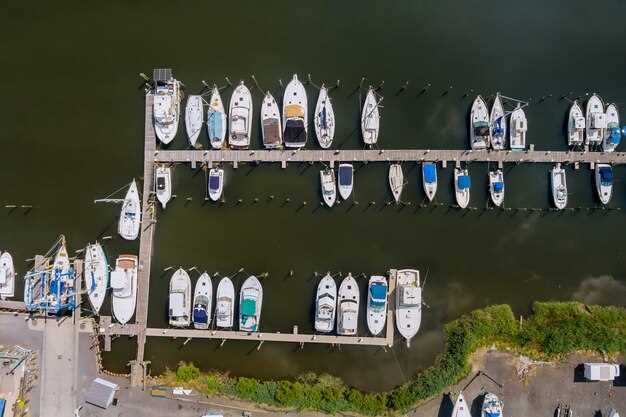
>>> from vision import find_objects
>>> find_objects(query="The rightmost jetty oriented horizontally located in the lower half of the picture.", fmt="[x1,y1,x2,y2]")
[147,323,386,348]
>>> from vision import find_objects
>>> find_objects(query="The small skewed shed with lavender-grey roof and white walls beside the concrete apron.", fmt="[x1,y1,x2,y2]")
[87,377,119,409]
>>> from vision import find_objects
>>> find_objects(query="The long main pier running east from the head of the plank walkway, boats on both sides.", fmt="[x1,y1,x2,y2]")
[155,143,626,170]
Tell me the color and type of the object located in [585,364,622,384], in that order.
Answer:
white vehicle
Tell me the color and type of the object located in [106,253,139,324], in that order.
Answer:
white boat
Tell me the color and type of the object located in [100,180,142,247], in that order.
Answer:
white boat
